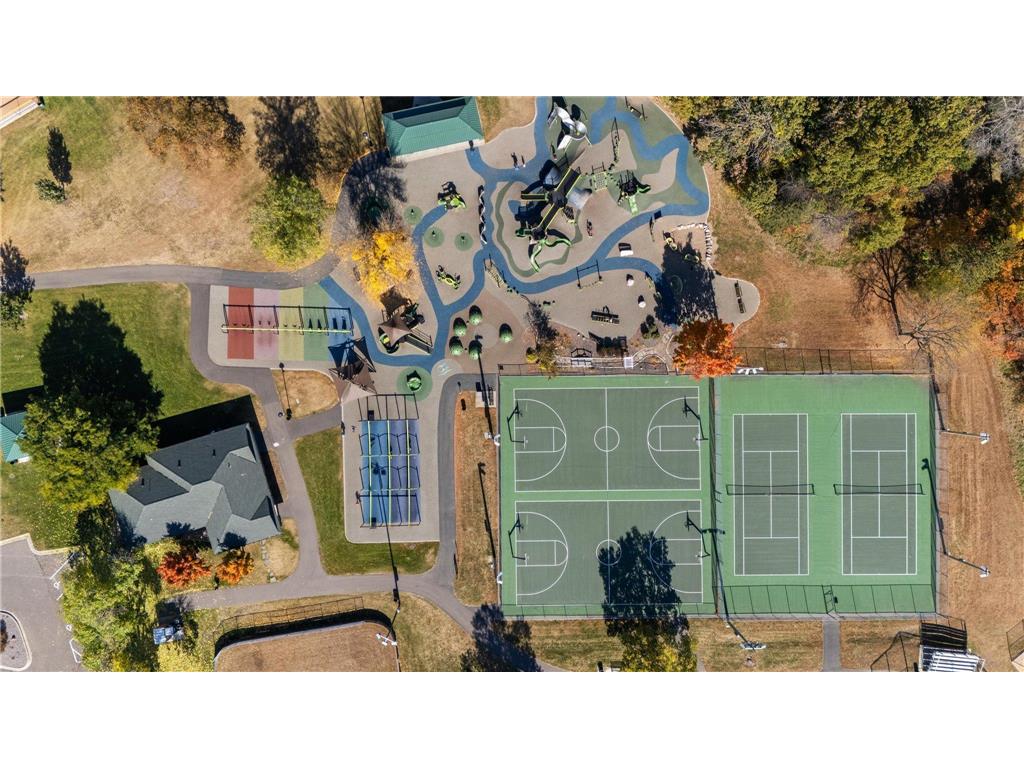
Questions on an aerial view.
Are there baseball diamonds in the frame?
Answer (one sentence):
Yes, there is a baseball diamond in the image.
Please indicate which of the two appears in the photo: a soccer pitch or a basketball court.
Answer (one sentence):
The one in the frame is a basketball court.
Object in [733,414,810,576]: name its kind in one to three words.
tennis court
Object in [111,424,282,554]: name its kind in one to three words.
house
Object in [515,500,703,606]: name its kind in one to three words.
basketball court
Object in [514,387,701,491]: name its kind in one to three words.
basketball court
